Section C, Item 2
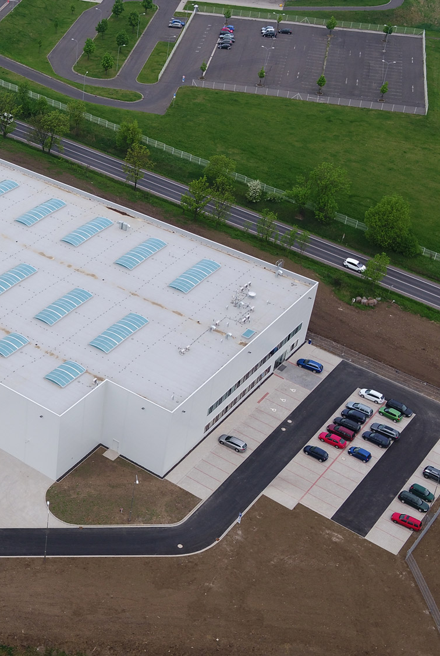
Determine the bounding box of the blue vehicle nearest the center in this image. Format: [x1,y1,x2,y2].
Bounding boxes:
[298,360,323,374]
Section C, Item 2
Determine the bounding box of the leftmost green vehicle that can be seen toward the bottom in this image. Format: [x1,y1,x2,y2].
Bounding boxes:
[379,409,402,424]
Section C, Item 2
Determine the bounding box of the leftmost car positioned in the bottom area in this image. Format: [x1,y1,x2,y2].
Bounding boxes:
[219,436,247,453]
